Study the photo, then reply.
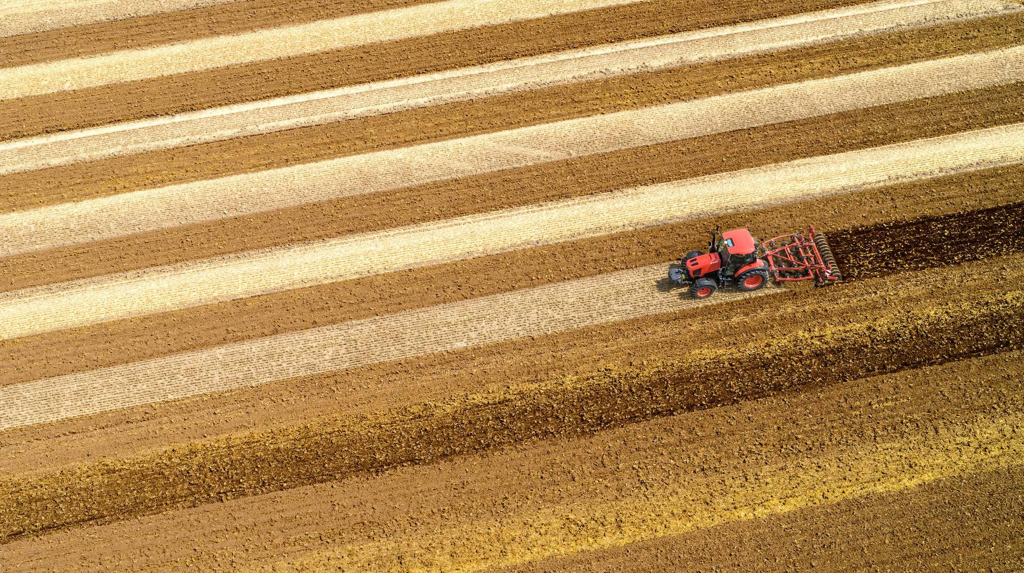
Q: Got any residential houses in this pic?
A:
No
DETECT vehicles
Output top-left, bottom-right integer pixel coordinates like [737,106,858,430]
[680,225,769,299]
